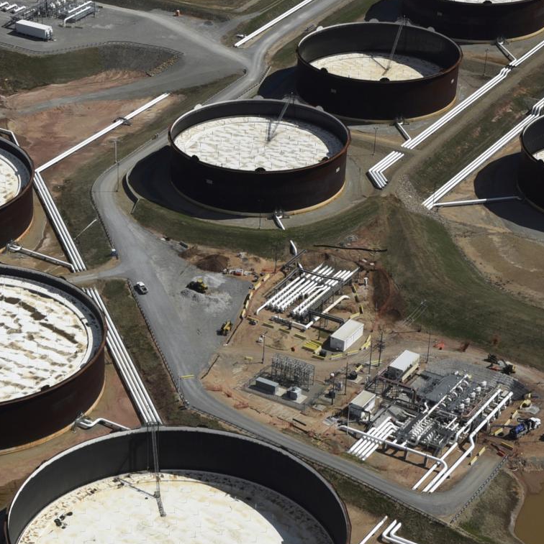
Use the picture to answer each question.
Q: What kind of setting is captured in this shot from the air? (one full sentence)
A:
This looks like an industrial area.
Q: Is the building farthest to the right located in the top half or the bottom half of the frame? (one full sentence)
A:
The building farthest to the right sits in the bottom half of the picture.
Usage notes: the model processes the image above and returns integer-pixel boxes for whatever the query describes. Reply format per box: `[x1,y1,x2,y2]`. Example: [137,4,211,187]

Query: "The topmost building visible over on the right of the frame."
[330,319,364,350]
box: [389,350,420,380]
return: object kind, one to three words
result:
building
